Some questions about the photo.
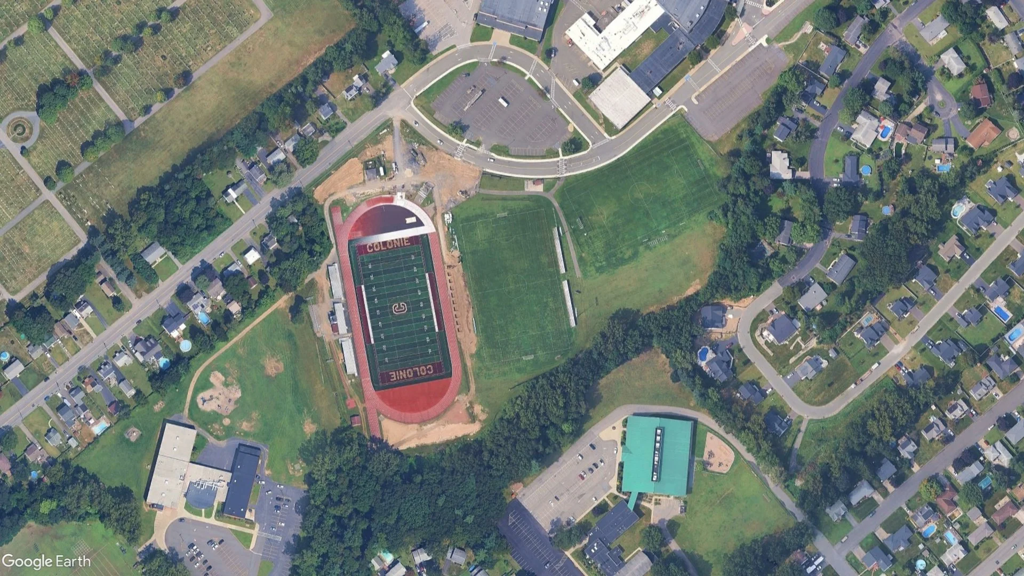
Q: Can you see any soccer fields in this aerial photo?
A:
Yes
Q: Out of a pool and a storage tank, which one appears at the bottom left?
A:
pool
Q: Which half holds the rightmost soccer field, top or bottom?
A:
top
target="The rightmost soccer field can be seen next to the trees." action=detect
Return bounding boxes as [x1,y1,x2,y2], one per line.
[564,127,716,259]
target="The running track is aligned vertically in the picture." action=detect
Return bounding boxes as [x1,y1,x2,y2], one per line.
[331,193,461,446]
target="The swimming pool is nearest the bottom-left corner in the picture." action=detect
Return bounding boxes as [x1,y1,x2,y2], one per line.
[88,416,112,439]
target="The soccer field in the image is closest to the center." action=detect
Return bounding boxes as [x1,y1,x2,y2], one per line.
[460,208,570,365]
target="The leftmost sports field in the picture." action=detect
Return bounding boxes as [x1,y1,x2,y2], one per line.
[349,234,452,391]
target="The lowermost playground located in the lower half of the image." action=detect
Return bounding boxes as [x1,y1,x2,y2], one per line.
[703,431,734,473]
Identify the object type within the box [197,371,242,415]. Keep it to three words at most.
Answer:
playground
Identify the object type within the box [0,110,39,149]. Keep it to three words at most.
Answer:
roundabout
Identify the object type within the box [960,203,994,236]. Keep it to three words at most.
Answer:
house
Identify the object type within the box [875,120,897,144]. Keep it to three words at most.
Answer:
swimming pool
